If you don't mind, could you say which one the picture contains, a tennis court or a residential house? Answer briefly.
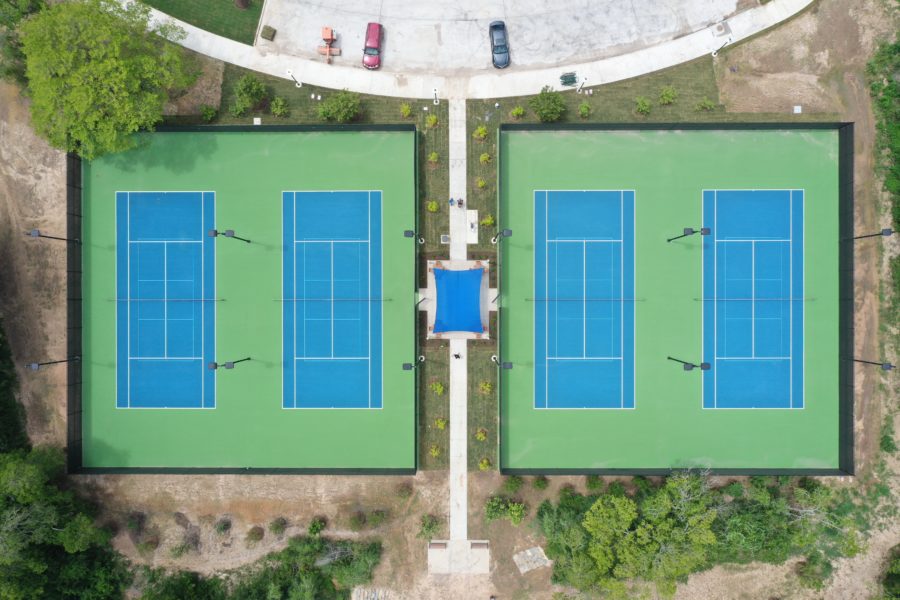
tennis court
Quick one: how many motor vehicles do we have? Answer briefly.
three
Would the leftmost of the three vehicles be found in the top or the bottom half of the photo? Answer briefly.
top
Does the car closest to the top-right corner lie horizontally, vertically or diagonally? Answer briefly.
vertically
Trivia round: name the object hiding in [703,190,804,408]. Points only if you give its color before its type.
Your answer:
blue tennis court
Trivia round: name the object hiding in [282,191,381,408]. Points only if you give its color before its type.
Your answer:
blue tennis court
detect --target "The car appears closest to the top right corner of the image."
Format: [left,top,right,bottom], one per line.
[490,20,512,69]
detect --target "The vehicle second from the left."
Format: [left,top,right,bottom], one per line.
[360,20,382,69]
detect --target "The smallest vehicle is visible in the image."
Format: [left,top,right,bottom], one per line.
[315,24,339,65]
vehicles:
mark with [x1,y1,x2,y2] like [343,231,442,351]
[360,20,382,69]
[490,20,512,69]
[315,24,339,65]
